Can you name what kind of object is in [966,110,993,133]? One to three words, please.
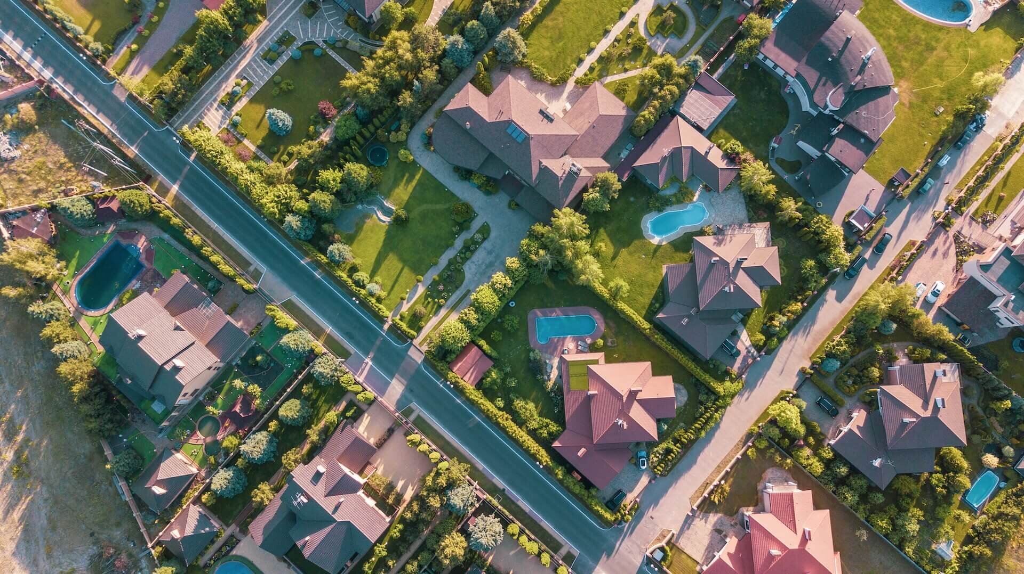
vehicle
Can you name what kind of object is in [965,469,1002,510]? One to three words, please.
swimming pool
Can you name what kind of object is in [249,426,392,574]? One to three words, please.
house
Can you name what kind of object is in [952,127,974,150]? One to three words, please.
car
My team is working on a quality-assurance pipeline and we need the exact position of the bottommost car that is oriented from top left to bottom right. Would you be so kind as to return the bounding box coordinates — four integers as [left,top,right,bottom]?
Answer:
[815,395,841,420]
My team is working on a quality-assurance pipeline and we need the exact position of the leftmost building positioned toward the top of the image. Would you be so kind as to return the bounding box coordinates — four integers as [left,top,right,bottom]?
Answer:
[12,209,57,245]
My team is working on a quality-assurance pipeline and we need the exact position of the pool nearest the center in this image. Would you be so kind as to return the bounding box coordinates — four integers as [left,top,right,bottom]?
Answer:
[535,314,599,345]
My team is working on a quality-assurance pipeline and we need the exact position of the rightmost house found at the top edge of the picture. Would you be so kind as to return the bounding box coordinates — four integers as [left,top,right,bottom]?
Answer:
[755,0,898,198]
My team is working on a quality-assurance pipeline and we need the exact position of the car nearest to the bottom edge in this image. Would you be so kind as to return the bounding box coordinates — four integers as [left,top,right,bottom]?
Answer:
[605,487,629,511]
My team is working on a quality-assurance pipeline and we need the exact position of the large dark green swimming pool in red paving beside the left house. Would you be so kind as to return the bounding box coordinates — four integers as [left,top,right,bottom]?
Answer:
[72,238,148,312]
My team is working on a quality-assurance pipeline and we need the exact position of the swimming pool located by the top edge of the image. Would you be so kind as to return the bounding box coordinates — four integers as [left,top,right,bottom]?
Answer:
[894,0,980,26]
